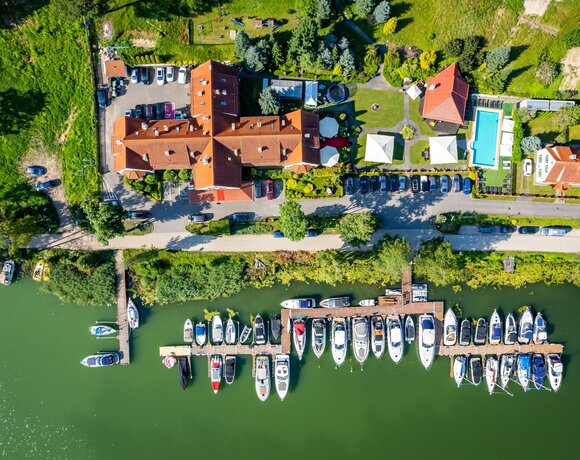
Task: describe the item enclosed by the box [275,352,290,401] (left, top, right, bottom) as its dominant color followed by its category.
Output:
white boat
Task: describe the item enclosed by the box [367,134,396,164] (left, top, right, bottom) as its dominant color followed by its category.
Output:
white tent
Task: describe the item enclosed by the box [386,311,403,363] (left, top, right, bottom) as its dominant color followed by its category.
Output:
white boat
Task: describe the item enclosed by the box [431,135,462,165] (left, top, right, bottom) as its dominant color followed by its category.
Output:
white tent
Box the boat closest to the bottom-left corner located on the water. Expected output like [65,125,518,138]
[80,352,121,367]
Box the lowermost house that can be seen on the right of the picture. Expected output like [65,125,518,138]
[532,145,580,195]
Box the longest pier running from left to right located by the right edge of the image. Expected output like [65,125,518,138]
[434,343,563,356]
